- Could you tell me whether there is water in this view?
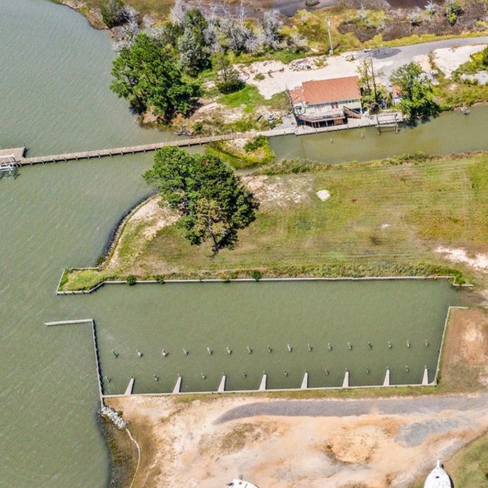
Yes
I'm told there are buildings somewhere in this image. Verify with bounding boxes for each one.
[385,83,402,103]
[288,75,362,131]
